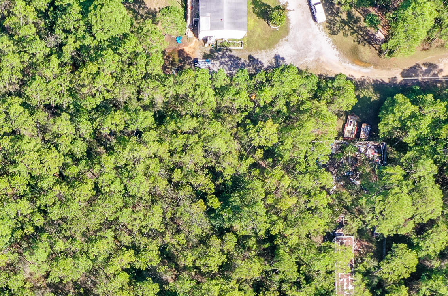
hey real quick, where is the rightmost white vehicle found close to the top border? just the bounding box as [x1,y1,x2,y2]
[307,0,328,24]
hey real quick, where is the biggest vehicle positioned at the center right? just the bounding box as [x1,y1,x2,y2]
[339,113,358,143]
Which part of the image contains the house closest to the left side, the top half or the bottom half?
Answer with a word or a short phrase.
top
